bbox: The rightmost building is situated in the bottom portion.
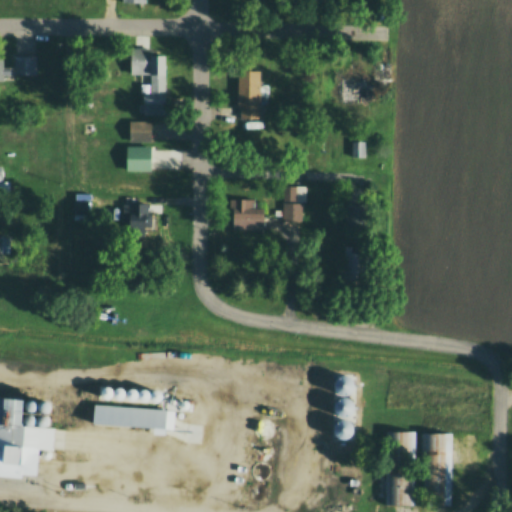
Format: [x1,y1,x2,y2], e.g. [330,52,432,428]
[421,433,454,509]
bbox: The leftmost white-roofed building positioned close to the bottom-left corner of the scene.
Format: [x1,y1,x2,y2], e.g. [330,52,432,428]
[0,399,55,478]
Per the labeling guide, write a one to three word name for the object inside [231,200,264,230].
house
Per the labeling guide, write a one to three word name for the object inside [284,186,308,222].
house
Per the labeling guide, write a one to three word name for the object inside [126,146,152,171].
building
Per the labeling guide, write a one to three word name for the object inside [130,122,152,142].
shed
